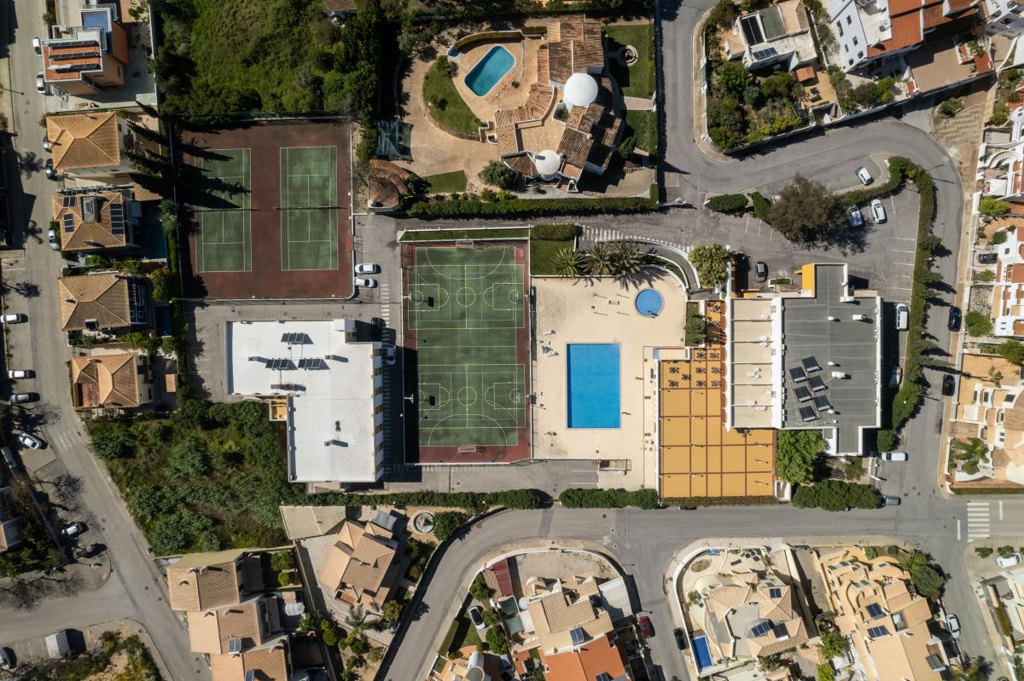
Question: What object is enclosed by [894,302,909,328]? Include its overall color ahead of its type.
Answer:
white vehicle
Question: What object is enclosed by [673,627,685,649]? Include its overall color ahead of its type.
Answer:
black vehicle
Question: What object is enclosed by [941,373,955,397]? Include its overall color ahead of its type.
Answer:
black car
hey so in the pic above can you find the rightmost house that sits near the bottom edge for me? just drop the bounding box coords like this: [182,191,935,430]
[978,555,1024,653]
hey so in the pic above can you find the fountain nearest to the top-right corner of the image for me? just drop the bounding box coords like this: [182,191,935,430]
[617,43,639,66]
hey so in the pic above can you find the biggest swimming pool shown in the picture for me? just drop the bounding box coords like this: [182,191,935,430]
[565,341,623,431]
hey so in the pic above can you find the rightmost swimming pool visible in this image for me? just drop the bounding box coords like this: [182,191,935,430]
[690,636,714,671]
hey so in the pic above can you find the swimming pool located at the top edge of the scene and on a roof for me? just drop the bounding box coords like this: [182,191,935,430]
[86,11,109,39]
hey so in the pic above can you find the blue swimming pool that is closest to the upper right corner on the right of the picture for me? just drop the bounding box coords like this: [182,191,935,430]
[633,286,665,318]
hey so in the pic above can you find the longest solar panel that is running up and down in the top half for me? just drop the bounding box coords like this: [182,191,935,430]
[111,203,123,234]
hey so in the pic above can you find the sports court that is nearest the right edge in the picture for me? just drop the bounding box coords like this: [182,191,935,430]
[401,239,532,464]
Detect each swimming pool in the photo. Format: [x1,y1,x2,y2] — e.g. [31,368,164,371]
[633,286,665,318]
[565,341,623,431]
[463,43,517,98]
[146,222,168,260]
[690,636,714,671]
[153,304,173,338]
